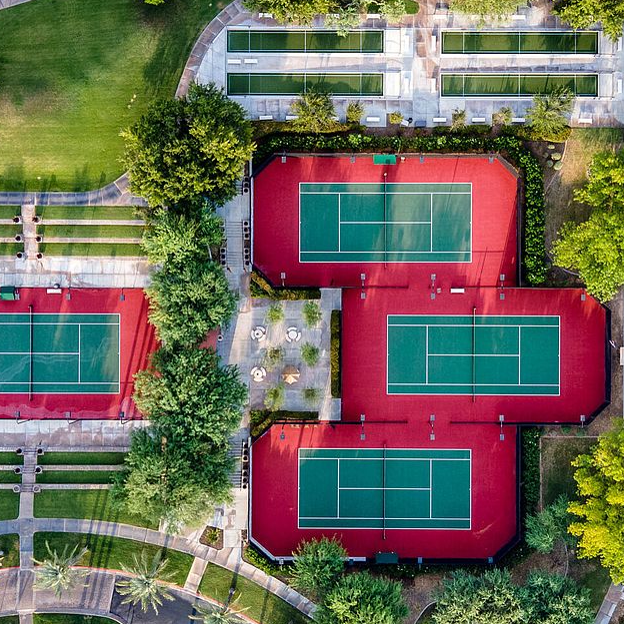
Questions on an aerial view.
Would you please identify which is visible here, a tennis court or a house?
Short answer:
tennis court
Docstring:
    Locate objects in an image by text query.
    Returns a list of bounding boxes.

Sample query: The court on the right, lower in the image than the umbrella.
[251,424,516,558]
